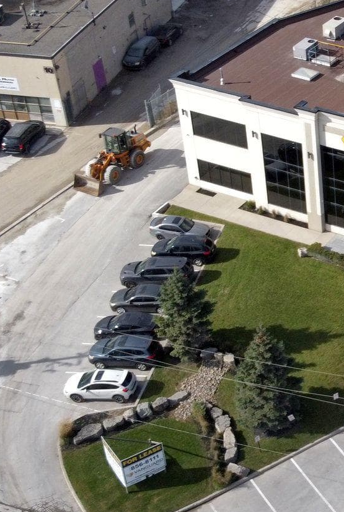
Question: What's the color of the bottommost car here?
white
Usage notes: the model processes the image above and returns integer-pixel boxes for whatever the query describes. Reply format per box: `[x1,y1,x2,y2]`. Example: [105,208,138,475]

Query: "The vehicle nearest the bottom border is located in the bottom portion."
[59,366,139,403]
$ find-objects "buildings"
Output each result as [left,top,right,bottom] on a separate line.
[0,0,191,127]
[165,0,344,232]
